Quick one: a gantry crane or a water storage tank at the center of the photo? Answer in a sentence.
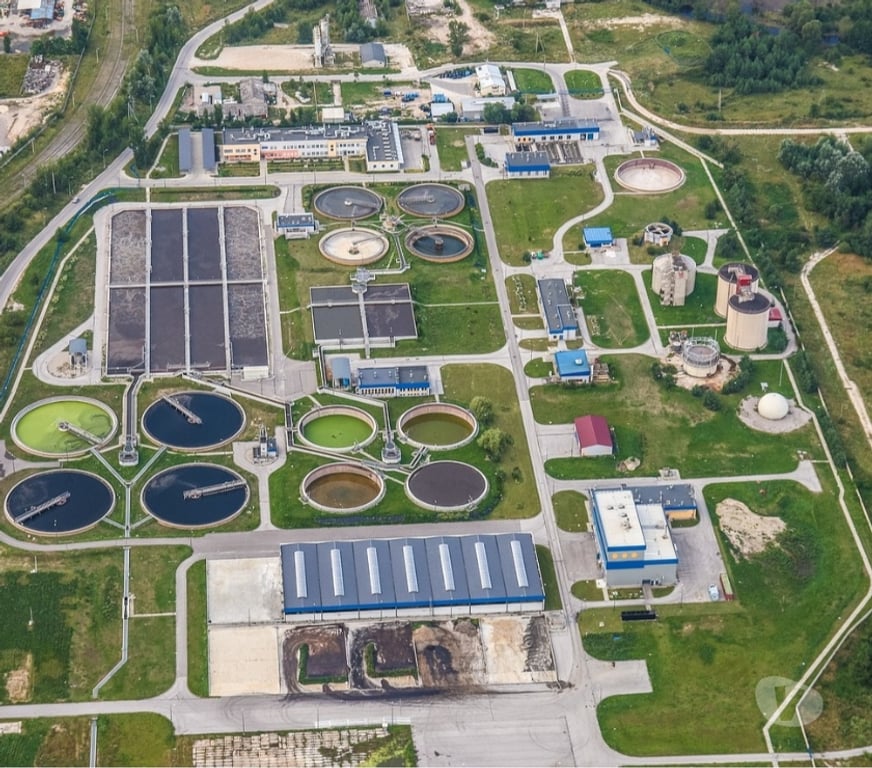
You can see a water storage tank at the center of the photo.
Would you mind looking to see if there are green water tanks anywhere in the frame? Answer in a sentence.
Yes, there's a green water tank here.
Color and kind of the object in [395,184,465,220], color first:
gray water tank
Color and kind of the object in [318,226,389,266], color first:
white water tank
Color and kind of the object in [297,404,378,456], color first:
green water tank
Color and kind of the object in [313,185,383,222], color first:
gray water tank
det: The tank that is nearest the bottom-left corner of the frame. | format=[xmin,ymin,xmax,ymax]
[3,468,116,536]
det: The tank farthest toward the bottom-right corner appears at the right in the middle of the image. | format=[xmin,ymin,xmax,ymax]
[754,392,791,426]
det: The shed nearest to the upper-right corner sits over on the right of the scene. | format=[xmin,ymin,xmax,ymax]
[625,127,668,151]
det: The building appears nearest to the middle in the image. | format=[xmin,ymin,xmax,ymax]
[357,365,432,398]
